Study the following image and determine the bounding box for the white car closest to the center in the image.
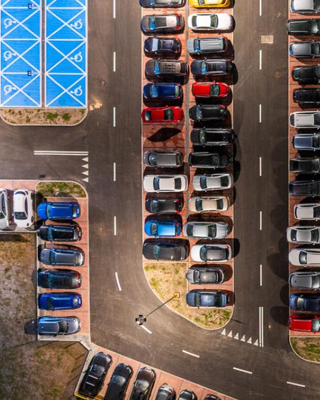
[145,174,188,194]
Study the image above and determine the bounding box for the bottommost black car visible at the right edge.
[289,292,320,313]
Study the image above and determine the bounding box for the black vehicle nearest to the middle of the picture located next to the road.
[147,196,182,216]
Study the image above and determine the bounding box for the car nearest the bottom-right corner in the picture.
[289,313,320,335]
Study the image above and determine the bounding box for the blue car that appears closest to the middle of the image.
[146,219,182,239]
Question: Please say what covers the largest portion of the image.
paved ground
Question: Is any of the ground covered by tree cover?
No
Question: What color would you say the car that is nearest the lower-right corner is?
red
